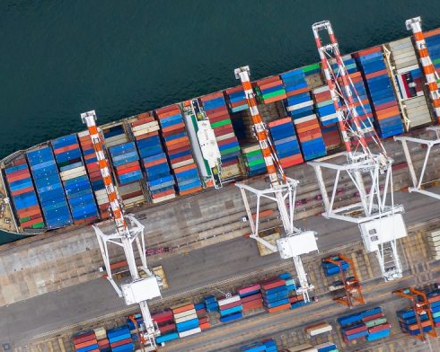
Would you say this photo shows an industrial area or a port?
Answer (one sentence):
The area seen from above is a port.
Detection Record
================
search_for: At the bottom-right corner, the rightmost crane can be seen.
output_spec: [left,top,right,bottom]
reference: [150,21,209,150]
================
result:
[391,286,440,345]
